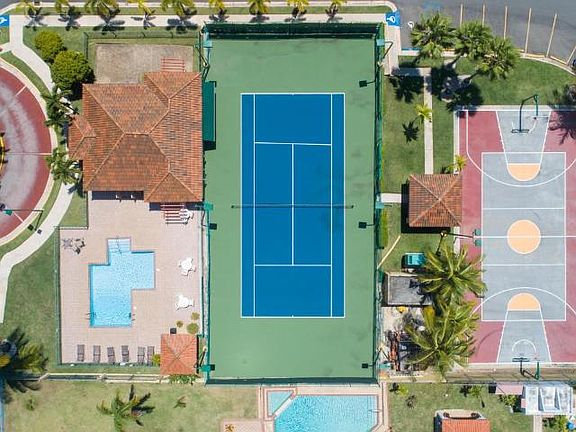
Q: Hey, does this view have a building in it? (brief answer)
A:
Yes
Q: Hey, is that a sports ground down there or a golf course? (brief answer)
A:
sports ground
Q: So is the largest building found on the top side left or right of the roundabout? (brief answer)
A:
on the right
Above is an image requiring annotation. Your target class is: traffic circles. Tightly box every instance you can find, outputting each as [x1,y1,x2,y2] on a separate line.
[0,56,60,242]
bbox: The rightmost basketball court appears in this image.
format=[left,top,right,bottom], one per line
[459,110,576,363]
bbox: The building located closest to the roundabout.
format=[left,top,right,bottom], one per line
[68,69,202,204]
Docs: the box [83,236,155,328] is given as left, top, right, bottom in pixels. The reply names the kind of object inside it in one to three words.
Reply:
swimming pool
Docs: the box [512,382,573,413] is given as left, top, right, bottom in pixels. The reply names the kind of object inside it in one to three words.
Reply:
shed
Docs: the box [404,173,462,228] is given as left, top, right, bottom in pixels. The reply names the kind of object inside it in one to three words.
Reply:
building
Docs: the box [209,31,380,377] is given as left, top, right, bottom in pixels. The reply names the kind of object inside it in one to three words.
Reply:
tennis court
